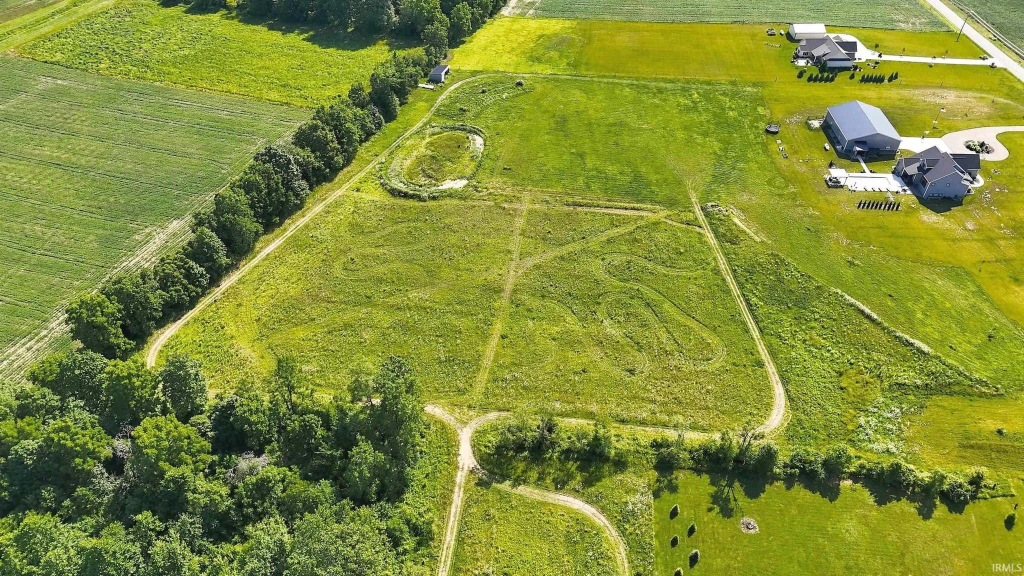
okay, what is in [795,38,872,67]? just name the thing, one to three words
house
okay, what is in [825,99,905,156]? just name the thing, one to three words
barn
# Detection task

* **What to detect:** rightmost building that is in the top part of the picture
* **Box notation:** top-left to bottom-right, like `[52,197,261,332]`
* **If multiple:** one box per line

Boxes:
[886,139,992,198]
